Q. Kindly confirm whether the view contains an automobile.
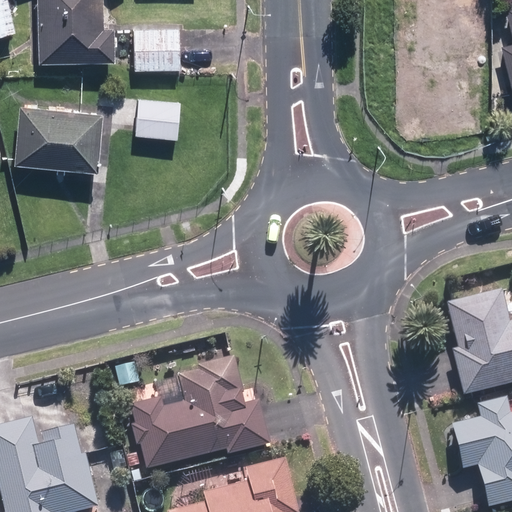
Yes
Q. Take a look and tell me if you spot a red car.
No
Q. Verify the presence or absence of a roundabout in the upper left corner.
No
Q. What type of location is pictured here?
residential area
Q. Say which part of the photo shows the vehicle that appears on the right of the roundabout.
right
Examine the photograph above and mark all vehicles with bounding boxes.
[468,216,506,236]
[181,49,212,65]
[33,384,60,400]
[266,214,282,244]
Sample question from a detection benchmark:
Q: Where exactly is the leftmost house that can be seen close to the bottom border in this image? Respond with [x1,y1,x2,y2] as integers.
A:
[0,416,98,512]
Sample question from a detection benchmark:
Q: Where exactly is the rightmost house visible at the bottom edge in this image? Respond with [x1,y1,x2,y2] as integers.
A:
[452,395,512,507]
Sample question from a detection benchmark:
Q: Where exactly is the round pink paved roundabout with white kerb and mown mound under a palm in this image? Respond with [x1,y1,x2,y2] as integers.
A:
[282,201,364,275]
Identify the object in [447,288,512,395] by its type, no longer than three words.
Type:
house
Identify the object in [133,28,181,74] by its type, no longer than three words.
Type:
building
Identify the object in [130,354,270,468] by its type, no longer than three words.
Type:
house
